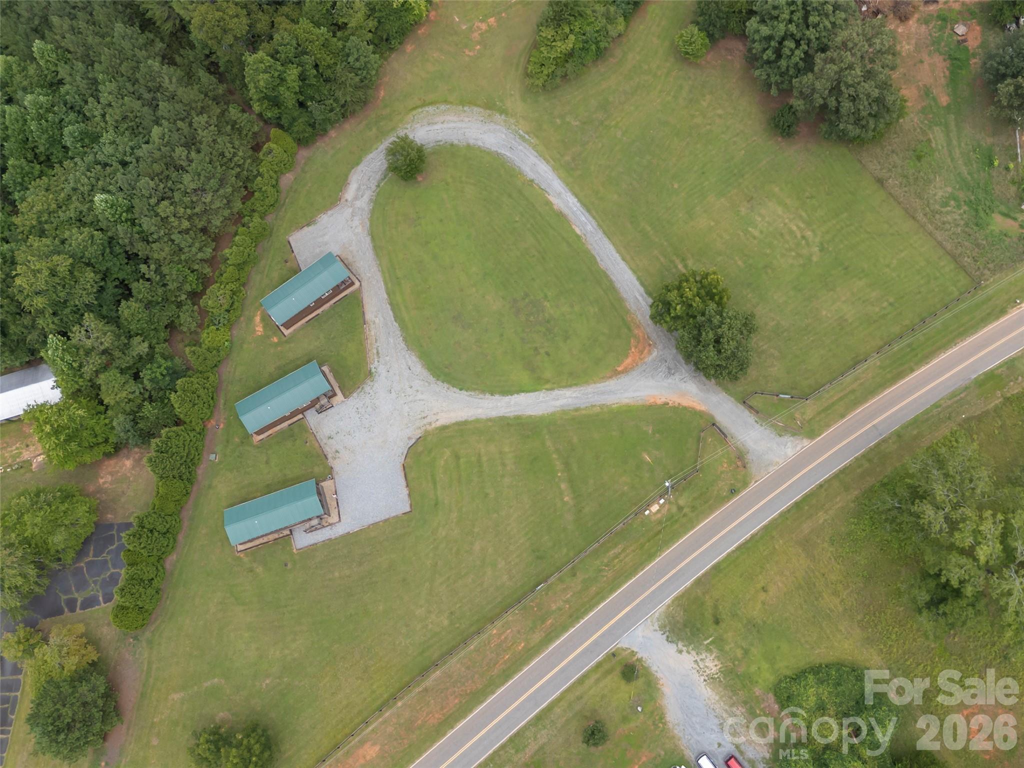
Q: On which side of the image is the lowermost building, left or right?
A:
left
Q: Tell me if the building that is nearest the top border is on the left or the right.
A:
left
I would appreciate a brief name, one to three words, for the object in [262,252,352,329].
building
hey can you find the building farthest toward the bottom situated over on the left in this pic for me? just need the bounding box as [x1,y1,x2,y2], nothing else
[225,479,327,546]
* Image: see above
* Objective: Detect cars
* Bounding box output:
[725,751,749,768]
[696,751,720,768]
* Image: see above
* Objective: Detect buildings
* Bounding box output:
[225,479,327,546]
[262,252,352,329]
[237,361,335,435]
[0,364,71,419]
